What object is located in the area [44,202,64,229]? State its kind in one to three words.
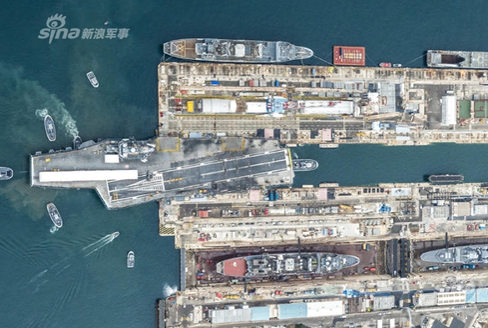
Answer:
boat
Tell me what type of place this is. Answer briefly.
port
